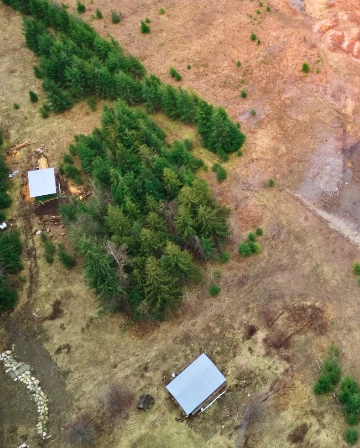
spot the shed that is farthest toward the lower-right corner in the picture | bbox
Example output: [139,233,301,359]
[164,354,226,420]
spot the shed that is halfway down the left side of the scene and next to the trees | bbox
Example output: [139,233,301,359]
[30,165,65,206]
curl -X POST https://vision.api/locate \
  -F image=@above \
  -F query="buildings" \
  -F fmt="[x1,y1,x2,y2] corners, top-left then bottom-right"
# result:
[138,395,155,412]
[30,165,65,206]
[164,354,226,420]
